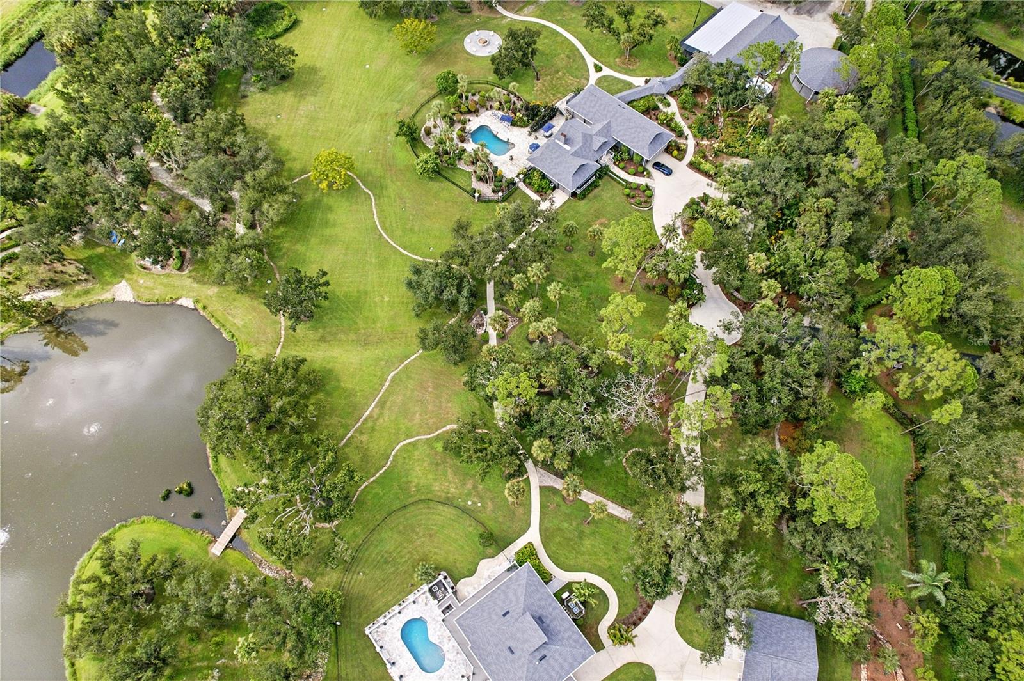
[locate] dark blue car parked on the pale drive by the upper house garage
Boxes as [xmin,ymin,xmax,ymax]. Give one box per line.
[649,160,675,177]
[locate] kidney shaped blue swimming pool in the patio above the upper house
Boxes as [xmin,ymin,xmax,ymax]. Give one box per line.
[469,123,516,157]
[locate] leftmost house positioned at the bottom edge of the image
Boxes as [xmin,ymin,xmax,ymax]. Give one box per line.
[454,562,597,681]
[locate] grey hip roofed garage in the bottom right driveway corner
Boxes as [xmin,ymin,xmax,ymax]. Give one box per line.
[740,608,817,681]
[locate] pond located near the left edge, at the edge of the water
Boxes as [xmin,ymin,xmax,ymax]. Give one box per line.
[0,303,252,681]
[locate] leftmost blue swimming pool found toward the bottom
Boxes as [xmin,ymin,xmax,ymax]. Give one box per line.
[399,616,447,676]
